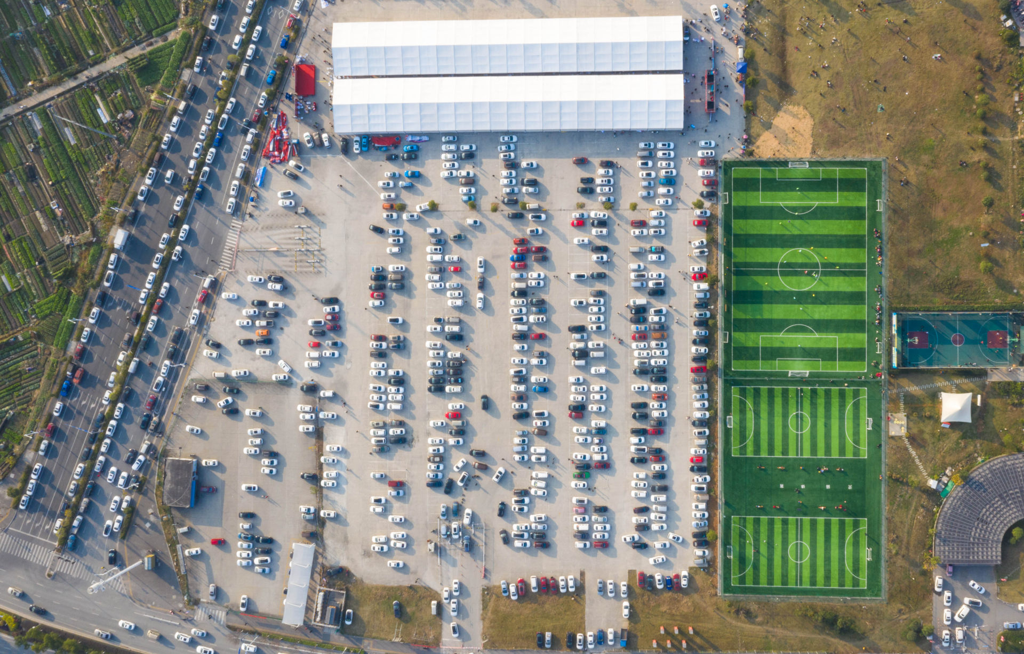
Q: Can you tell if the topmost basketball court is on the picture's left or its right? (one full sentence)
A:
The topmost basketball court sits on the right side.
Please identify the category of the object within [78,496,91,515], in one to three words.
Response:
vehicle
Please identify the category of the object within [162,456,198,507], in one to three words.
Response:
building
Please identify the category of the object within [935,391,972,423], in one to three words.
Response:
tent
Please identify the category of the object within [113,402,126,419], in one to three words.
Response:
vehicle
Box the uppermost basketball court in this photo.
[894,311,1024,368]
